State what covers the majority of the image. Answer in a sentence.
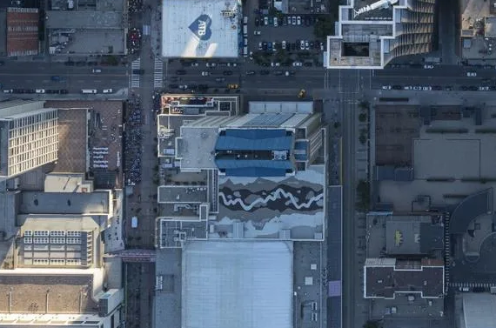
The largest share of the image is taken up by buildings.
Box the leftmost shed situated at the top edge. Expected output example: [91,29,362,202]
[7,8,44,55]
